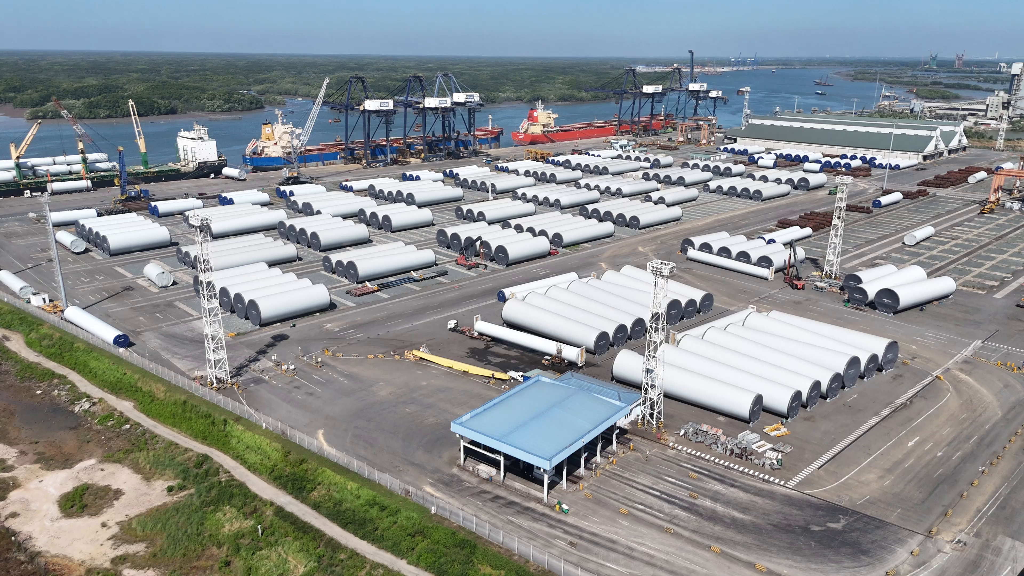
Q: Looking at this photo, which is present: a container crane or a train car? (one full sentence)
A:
There is a container crane in the scene.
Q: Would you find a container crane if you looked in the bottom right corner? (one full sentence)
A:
No, no container crane can be made out in the bottom right corner.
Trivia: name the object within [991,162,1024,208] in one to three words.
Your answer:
container crane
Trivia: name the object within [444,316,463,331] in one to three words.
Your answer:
vehicle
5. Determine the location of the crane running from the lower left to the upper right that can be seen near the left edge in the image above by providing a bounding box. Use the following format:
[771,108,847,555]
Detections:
[8,121,44,180]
